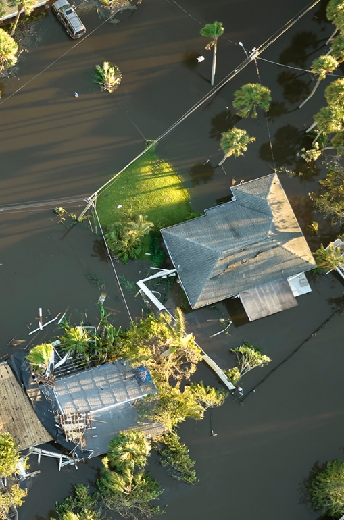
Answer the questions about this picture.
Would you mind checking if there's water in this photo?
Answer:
Yes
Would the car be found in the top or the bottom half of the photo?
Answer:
top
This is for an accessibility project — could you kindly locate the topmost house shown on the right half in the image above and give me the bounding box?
[160,173,318,309]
